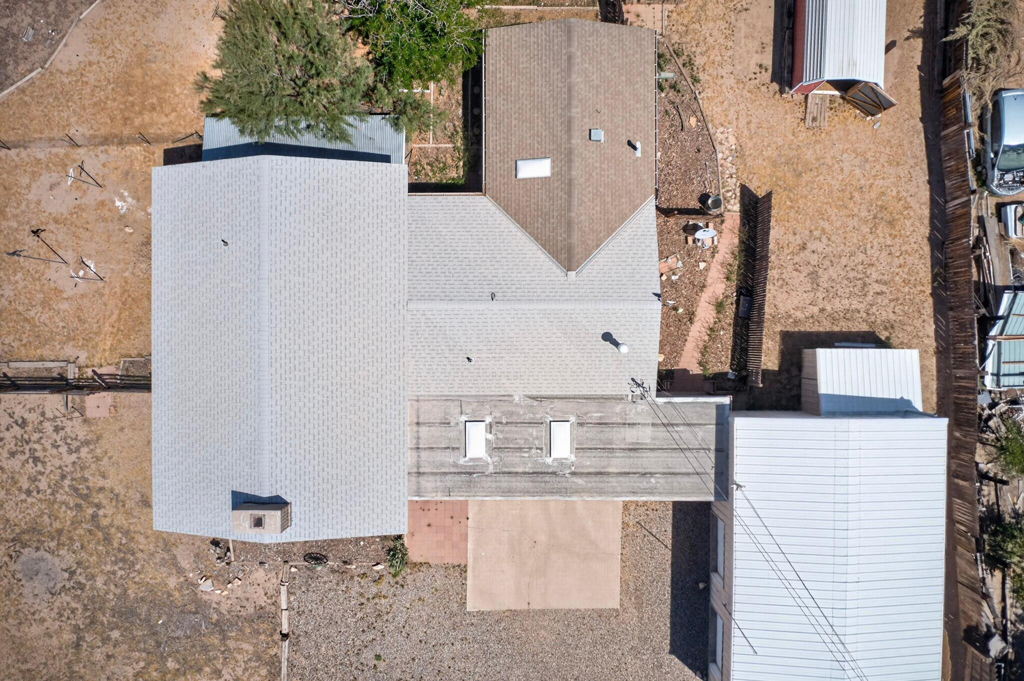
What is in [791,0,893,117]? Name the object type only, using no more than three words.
shed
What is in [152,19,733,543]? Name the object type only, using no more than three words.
house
